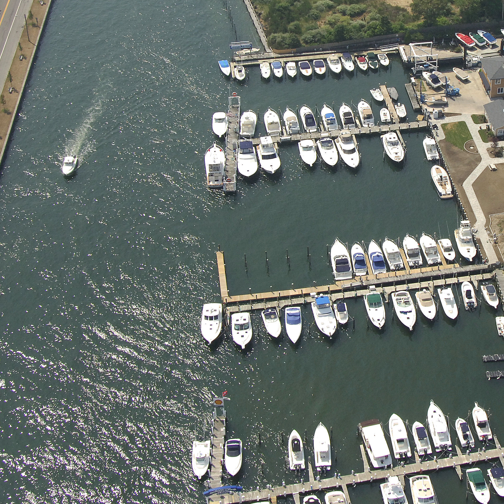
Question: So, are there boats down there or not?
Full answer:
Yes, the frame does contain a boat.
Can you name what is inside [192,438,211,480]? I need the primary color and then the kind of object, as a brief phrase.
white boat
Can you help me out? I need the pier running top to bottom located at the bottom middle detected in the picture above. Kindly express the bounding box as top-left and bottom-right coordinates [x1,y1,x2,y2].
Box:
[205,410,228,504]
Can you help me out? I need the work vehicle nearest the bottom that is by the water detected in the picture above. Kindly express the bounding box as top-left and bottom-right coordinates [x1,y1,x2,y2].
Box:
[423,76,461,97]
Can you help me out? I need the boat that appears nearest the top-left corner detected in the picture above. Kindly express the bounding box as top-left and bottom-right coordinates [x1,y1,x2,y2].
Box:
[62,154,78,178]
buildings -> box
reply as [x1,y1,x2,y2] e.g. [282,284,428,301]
[476,56,504,97]
[486,99,504,137]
